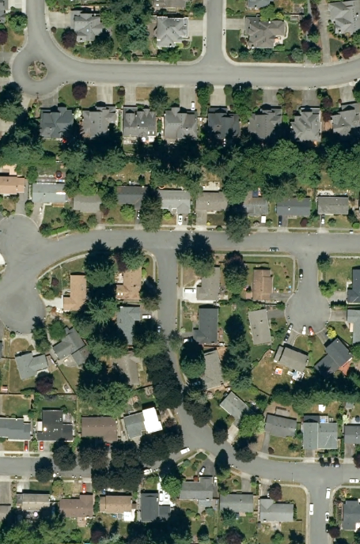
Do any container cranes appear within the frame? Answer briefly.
No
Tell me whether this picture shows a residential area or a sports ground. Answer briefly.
residential area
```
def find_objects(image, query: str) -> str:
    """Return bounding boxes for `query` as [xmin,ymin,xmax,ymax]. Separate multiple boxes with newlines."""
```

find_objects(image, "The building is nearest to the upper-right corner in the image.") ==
[329,0,360,35]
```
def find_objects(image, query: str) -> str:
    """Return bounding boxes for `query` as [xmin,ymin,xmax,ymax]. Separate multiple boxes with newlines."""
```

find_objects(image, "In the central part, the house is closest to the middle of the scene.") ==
[194,266,220,300]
